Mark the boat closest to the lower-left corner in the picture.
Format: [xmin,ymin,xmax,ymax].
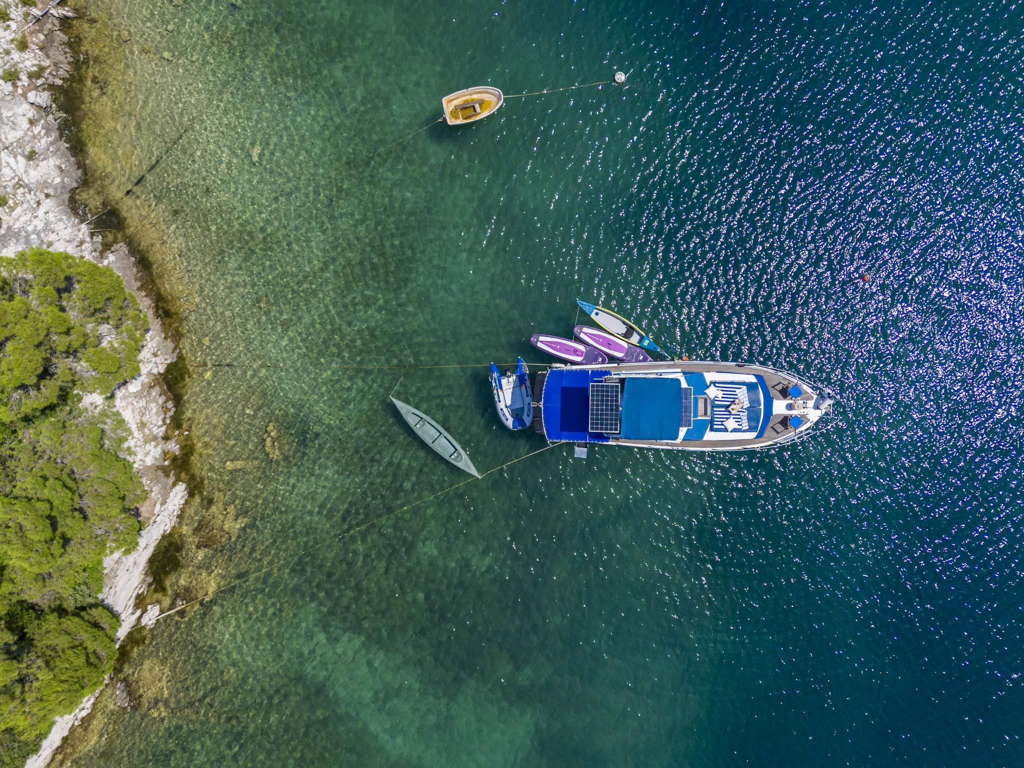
[390,397,481,479]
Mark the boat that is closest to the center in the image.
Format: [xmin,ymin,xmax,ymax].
[490,357,533,430]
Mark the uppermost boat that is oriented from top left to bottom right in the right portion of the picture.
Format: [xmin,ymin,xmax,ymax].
[576,301,672,359]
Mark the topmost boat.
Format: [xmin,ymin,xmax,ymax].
[442,86,504,127]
